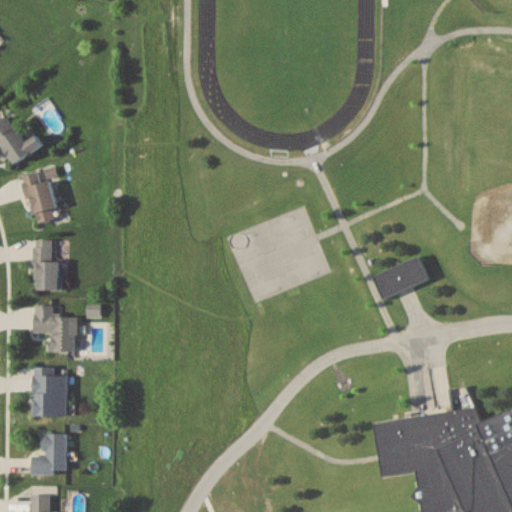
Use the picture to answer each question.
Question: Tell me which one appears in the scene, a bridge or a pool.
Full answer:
Of the two, only a pool appears.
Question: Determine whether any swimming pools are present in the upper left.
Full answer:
Yes, you'll find a swimming pool in the upper left.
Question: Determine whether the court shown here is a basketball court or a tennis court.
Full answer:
I'd identify the court as a basketball court.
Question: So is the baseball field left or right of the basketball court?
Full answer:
Looking at the photo, the baseball field lies to the right of the basketball court.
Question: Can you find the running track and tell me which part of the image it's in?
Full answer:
You can find the running track in the top area of the picture.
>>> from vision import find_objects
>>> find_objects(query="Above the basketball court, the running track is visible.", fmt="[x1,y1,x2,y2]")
[200,0,374,150]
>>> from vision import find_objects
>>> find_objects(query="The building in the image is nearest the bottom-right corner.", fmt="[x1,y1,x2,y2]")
[372,406,512,512]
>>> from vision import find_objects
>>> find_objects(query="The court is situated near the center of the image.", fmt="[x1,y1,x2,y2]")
[227,206,331,302]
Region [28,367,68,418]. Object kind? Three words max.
house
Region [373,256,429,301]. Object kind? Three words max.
building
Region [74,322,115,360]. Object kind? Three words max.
swimming pool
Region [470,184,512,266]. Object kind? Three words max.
baseball field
